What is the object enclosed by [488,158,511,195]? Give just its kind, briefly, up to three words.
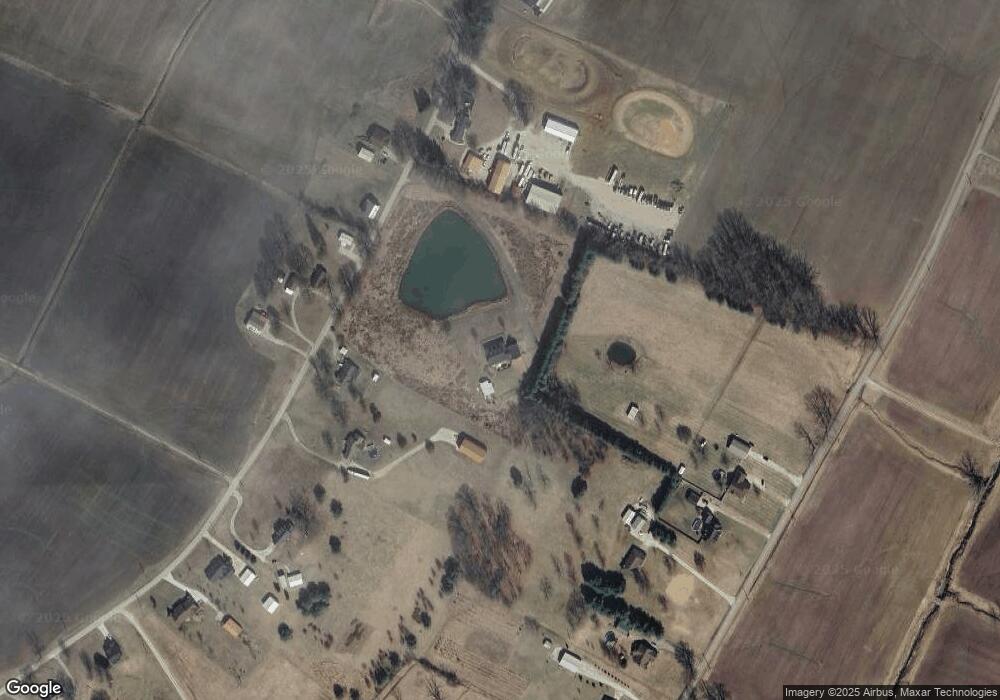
barn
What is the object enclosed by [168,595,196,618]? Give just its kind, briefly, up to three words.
house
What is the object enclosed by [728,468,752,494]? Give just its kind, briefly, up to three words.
house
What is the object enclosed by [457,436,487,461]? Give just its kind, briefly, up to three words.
barn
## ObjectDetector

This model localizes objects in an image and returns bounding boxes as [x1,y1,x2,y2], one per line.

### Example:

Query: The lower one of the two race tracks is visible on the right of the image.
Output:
[614,89,695,161]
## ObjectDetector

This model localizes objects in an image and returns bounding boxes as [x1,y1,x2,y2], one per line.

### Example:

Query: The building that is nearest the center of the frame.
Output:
[481,338,520,366]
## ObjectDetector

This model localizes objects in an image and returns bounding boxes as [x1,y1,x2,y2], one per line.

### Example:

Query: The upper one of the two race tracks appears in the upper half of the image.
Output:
[497,24,598,109]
